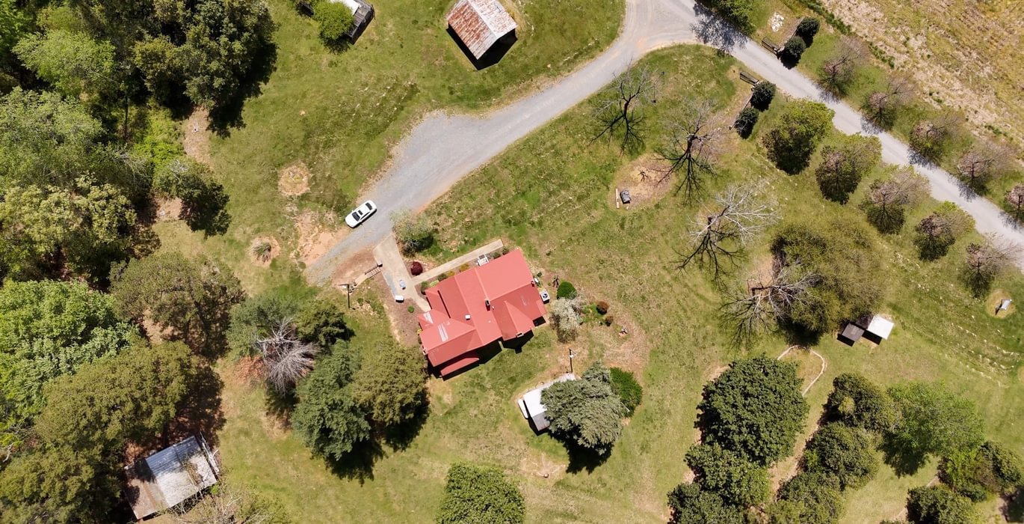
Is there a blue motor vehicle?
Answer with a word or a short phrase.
No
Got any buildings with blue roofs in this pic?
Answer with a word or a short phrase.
No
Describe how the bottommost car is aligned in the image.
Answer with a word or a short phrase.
on a diagonal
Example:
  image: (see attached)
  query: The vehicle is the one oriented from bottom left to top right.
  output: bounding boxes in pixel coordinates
[345,200,377,228]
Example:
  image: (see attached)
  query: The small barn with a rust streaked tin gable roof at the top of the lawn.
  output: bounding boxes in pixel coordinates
[444,0,516,60]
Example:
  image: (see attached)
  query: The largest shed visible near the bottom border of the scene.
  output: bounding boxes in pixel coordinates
[116,431,223,517]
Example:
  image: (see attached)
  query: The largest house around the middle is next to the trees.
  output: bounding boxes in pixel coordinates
[417,247,553,376]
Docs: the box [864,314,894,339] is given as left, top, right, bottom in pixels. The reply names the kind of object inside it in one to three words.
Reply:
shed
